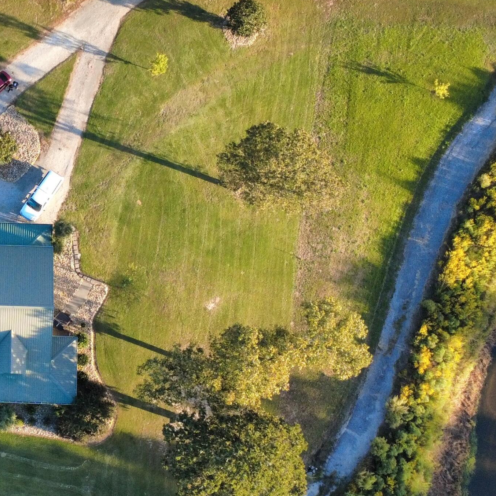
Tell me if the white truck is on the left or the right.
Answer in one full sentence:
You can find the white truck on the left side of the picture.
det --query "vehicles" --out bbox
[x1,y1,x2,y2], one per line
[19,167,65,222]
[0,69,13,93]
